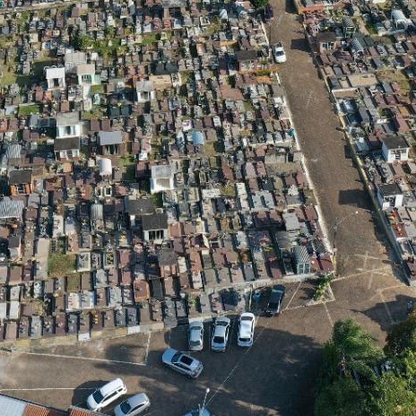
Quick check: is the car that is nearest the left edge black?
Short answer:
No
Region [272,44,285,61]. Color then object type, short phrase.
white vehicle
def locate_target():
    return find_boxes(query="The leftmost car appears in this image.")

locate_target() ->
[86,376,128,413]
